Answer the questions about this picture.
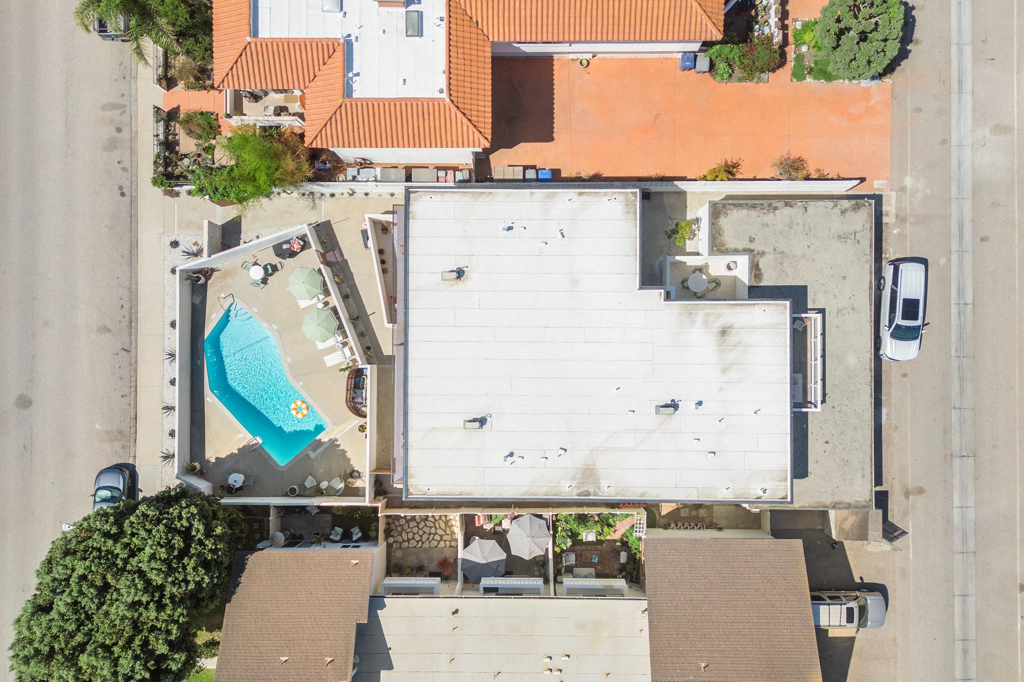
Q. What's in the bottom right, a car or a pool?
car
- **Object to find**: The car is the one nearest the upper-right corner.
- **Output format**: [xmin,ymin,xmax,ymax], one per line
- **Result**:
[876,260,932,361]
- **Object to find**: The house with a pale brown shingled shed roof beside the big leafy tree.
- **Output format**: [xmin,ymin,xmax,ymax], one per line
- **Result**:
[217,539,374,682]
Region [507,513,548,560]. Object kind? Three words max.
umbrella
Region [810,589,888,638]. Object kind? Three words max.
car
